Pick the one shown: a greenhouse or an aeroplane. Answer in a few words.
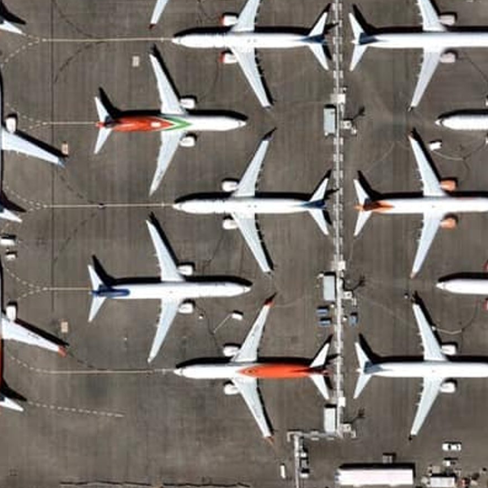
aeroplane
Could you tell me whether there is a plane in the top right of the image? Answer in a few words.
Yes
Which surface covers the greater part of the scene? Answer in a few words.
paved ground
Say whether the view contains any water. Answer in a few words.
No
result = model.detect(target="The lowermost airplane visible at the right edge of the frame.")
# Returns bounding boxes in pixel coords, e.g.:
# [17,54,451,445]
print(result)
[354,300,488,442]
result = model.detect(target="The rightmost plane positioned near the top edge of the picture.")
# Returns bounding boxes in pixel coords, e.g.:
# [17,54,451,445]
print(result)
[348,0,488,112]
